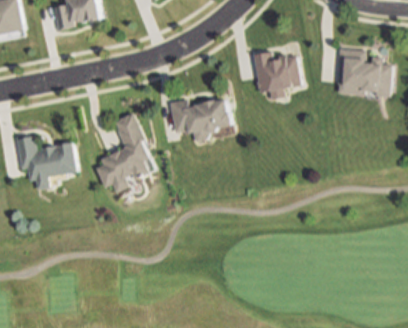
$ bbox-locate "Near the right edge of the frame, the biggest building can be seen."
[338,48,398,100]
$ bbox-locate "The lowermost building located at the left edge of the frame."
[18,134,80,192]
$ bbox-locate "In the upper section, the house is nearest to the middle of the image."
[172,98,238,147]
